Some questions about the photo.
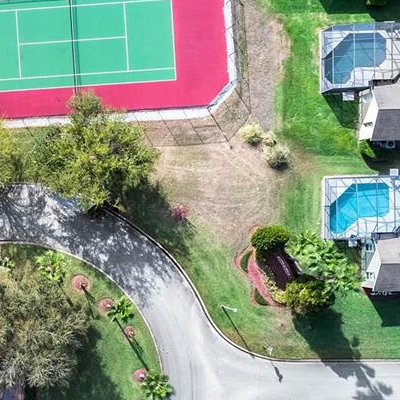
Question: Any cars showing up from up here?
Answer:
No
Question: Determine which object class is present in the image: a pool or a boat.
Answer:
pool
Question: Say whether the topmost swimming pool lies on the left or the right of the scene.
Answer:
right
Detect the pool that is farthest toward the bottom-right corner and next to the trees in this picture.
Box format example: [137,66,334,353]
[323,176,400,241]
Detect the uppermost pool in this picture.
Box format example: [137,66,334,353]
[319,25,399,95]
